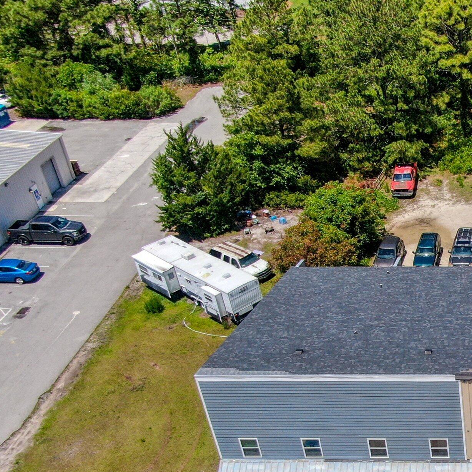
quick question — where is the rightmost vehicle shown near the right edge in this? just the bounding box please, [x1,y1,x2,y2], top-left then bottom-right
[448,229,472,267]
